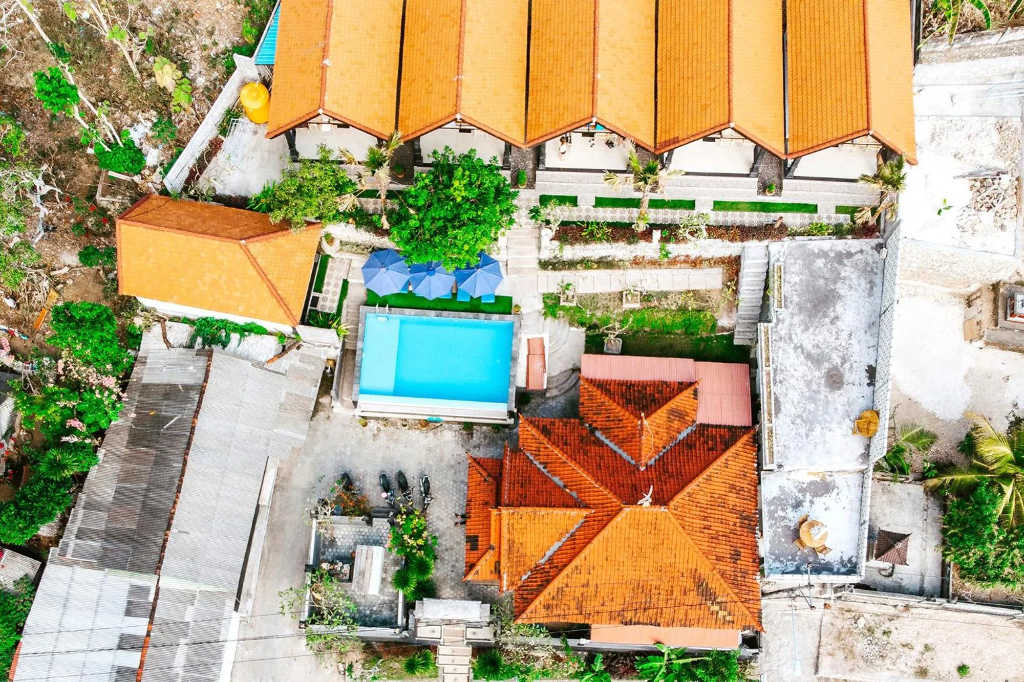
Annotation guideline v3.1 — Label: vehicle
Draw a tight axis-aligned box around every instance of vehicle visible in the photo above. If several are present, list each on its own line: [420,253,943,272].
[378,471,395,509]
[415,472,432,512]
[339,471,353,500]
[396,468,412,508]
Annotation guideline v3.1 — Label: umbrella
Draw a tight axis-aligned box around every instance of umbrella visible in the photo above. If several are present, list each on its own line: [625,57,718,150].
[455,251,503,295]
[362,249,410,296]
[410,256,457,299]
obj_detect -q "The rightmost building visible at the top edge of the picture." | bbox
[783,0,919,188]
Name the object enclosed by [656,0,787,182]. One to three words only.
house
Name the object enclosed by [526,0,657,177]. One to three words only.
house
